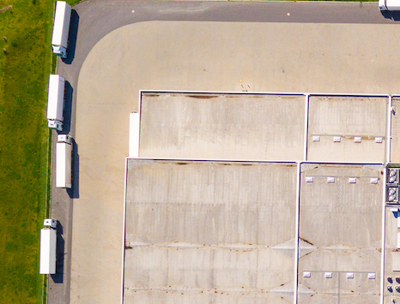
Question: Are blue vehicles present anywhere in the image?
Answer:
No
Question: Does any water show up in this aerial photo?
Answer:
No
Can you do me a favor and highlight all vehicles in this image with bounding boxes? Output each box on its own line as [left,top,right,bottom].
[57,134,74,190]
[52,0,74,58]
[48,73,66,132]
[377,0,400,11]
[40,219,59,275]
